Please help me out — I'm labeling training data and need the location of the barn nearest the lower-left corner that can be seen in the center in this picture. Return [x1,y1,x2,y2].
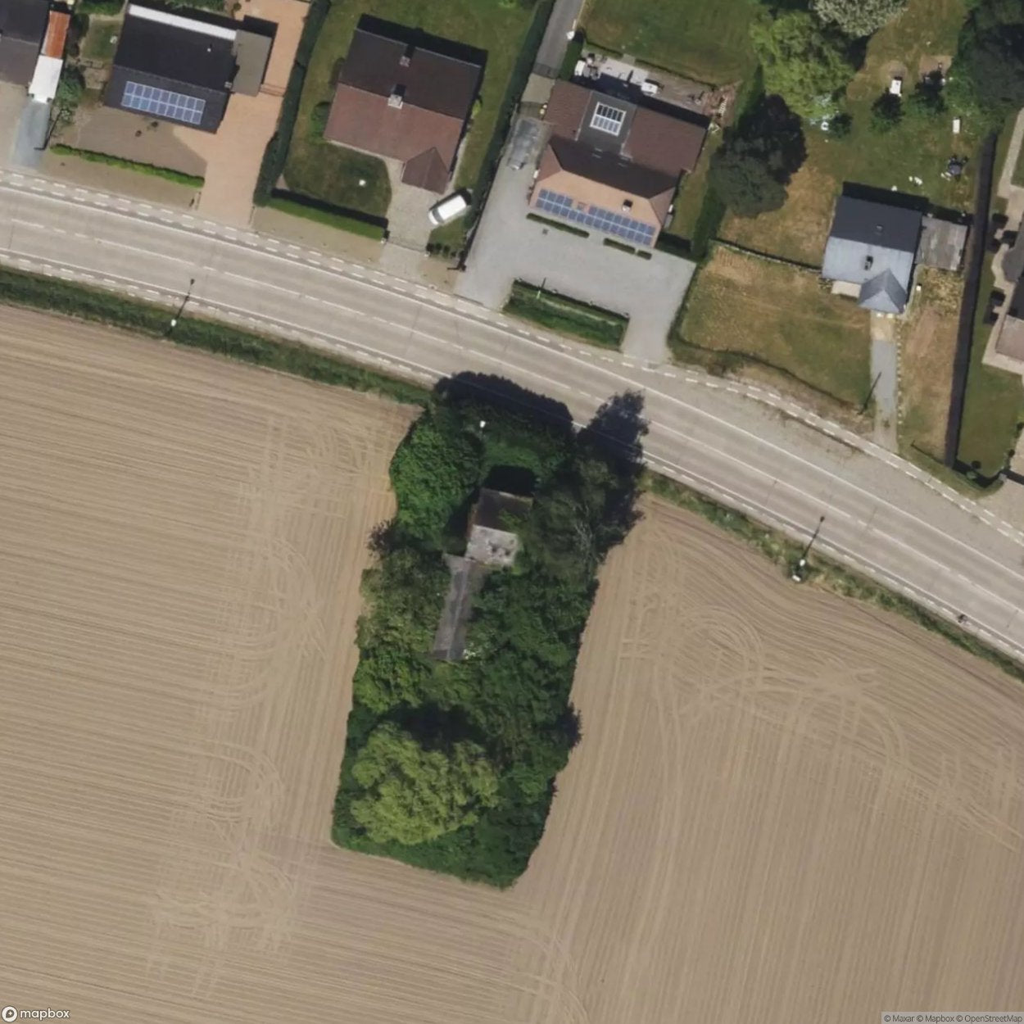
[435,554,491,662]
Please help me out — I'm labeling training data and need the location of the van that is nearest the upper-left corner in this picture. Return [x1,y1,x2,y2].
[428,191,470,224]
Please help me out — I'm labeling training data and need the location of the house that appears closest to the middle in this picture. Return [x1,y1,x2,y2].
[463,489,533,572]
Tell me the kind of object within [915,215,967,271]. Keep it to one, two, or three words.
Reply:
shed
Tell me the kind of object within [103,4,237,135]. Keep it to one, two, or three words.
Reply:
house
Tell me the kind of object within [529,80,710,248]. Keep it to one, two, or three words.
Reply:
house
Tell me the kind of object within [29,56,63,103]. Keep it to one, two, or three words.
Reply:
shed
